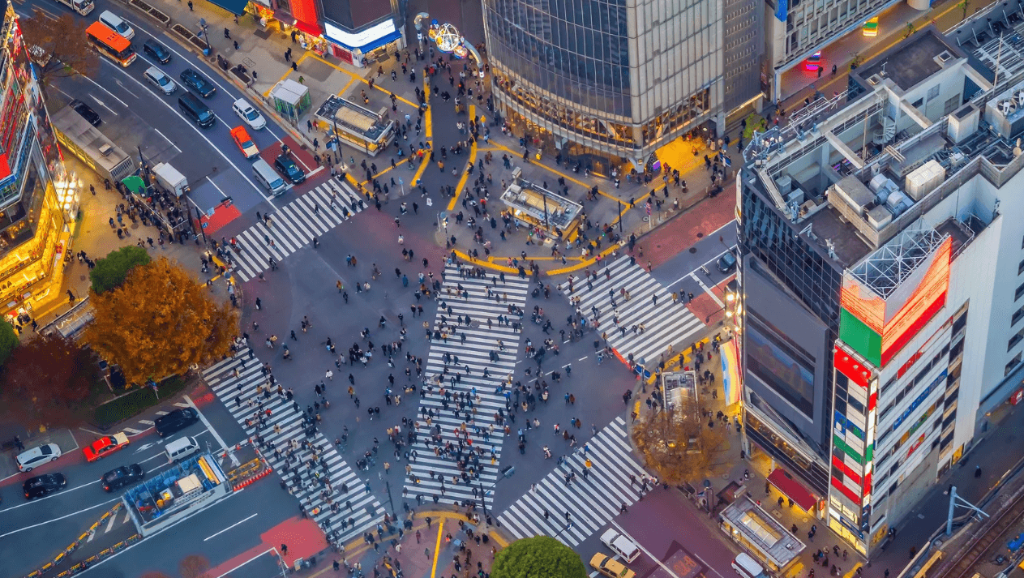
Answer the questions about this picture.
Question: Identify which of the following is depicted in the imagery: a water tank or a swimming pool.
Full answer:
The image shows a water tank.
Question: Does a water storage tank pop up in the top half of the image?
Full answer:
Yes, you'll find a water storage tank in the top half of the image.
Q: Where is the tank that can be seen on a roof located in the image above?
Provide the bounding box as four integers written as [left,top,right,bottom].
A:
[906,160,945,205]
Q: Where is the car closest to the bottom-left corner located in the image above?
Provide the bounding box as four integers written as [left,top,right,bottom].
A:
[19,470,67,497]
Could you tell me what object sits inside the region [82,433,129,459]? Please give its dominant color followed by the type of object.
red car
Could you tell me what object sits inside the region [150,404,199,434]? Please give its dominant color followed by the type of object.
black vehicle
